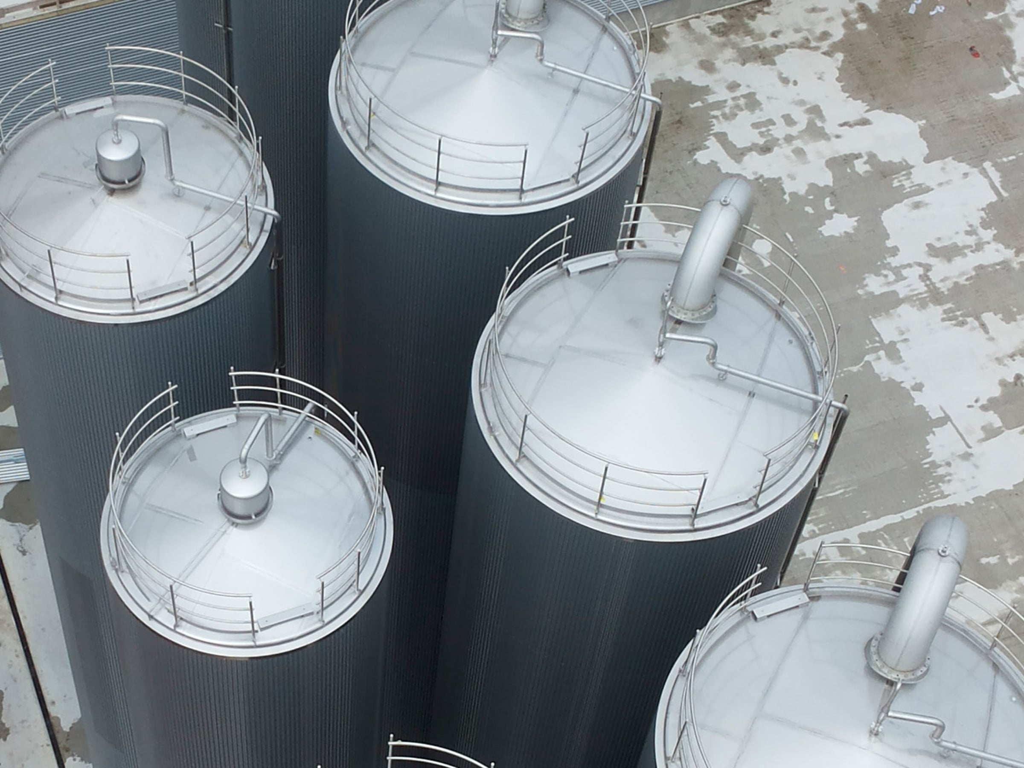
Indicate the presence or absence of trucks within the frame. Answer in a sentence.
No, I can see no truck in this picture.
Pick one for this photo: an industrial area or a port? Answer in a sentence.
It's an industrial area.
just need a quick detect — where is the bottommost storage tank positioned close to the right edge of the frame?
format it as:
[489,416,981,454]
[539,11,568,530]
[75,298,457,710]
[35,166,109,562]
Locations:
[644,513,1024,768]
